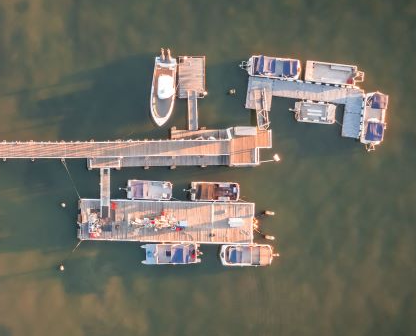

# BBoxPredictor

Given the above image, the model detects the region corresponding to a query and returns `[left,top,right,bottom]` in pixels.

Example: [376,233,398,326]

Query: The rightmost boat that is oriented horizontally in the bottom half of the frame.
[220,243,280,266]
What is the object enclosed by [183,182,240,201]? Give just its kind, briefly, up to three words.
boat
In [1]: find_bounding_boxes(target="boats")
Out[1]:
[140,243,204,266]
[119,180,173,200]
[289,101,336,121]
[240,54,304,79]
[152,48,177,126]
[358,94,389,152]
[220,243,280,266]
[183,182,240,201]
[304,60,363,86]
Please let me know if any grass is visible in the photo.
No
